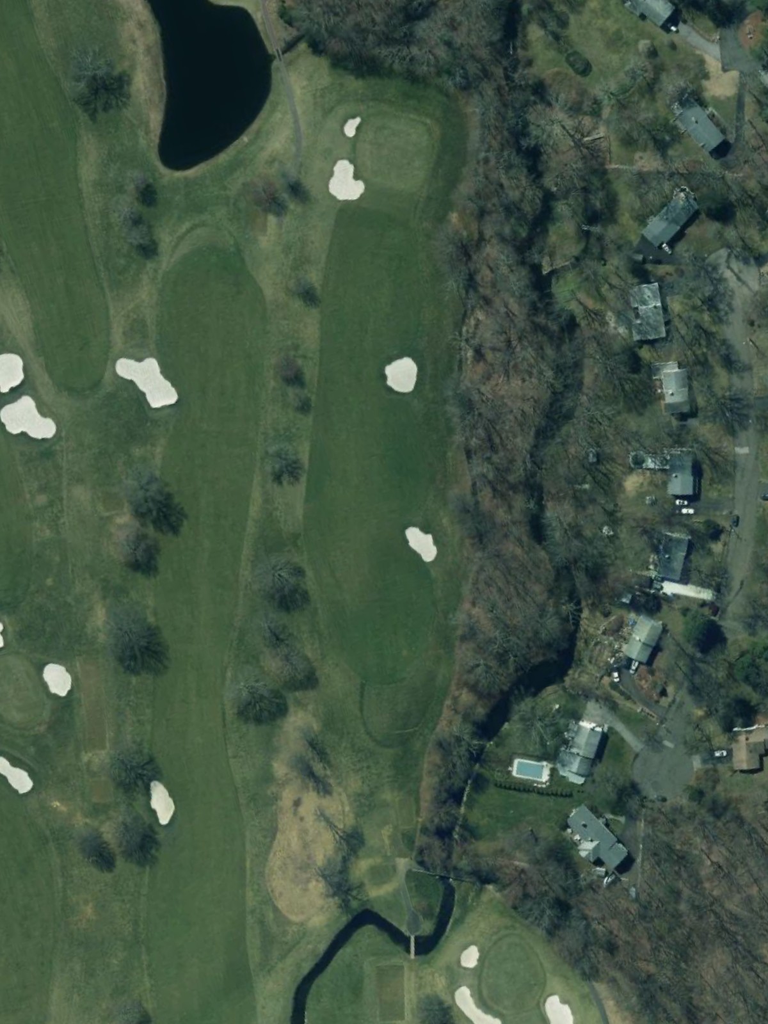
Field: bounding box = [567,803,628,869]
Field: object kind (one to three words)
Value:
house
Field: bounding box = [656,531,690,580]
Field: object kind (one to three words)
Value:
house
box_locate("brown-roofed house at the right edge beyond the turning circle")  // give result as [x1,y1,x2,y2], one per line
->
[732,723,768,770]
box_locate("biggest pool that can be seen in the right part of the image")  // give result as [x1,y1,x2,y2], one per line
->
[513,759,549,782]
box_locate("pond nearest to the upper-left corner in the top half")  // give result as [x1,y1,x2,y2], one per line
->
[151,0,276,170]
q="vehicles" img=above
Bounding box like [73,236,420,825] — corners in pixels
[630,886,635,896]
[681,508,693,514]
[761,494,768,499]
[662,243,672,254]
[710,603,719,615]
[613,671,619,682]
[668,24,678,33]
[676,500,687,505]
[630,660,639,673]
[732,514,739,526]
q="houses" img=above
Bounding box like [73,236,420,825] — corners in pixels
[643,195,700,248]
[651,360,690,414]
[624,614,664,663]
[732,723,768,770]
[656,531,690,580]
[557,720,604,785]
[665,449,694,495]
[625,0,675,27]
[678,92,725,152]
[567,803,628,869]
[630,284,665,340]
